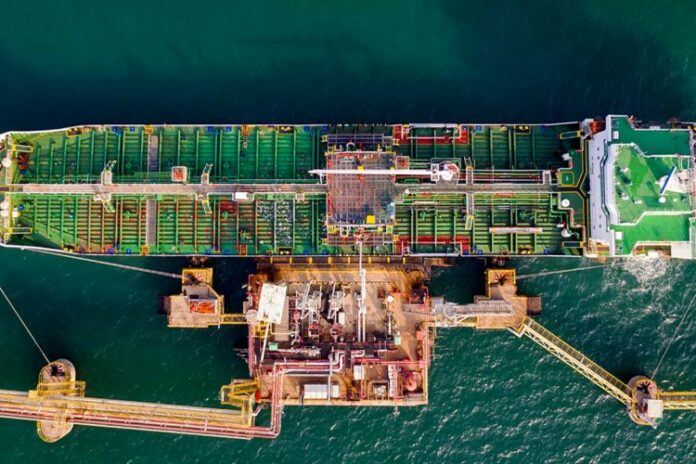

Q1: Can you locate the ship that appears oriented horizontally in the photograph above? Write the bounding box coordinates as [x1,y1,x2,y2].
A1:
[0,115,696,257]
